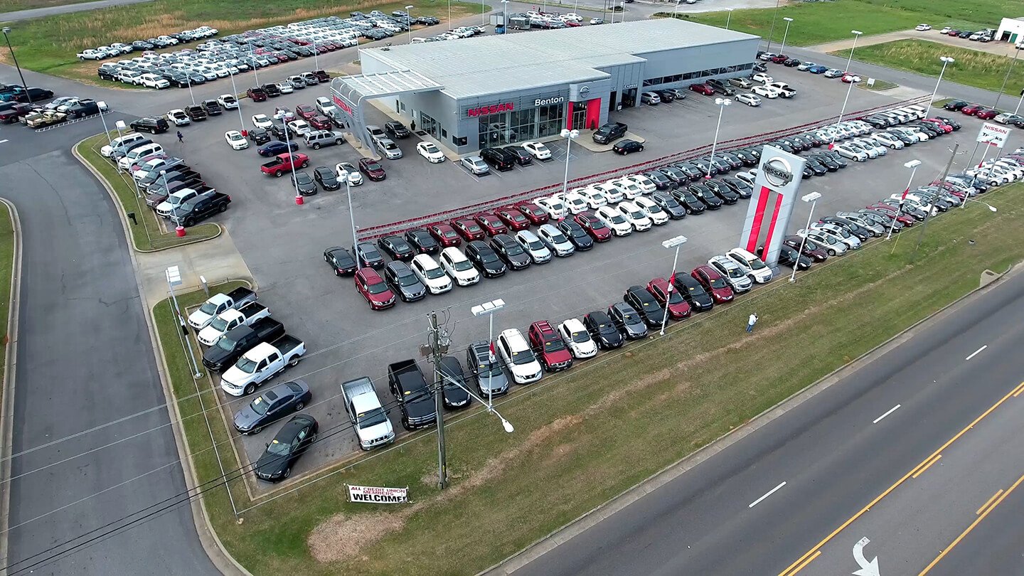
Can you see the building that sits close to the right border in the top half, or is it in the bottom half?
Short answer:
top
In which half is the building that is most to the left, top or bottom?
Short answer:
top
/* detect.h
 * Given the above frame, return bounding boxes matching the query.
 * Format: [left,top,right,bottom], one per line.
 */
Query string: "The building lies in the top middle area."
[351,16,763,153]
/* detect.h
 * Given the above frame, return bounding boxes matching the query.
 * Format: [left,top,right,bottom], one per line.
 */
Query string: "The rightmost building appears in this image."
[995,17,1024,49]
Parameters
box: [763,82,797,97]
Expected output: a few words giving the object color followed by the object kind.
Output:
white vehicle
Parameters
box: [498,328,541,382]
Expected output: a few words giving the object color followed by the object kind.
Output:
white car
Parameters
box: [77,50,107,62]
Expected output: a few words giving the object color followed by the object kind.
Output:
white vehicle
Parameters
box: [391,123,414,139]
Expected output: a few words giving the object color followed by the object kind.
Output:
black car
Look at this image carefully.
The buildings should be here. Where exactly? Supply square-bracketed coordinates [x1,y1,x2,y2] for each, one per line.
[995,17,1024,49]
[351,16,763,153]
